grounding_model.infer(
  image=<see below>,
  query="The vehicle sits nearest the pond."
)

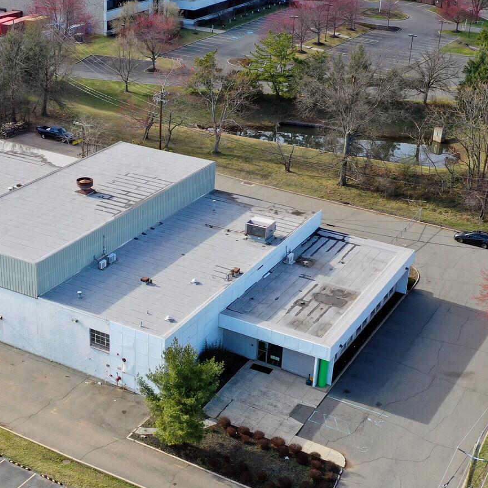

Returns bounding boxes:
[455,227,488,248]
